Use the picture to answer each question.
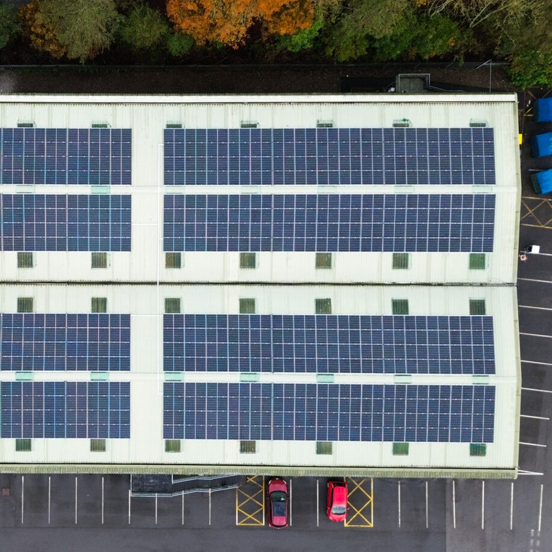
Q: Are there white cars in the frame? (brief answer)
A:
No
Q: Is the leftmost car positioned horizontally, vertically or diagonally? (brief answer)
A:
vertically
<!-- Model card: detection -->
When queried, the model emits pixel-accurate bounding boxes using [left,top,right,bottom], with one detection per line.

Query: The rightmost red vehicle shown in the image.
[324,478,349,521]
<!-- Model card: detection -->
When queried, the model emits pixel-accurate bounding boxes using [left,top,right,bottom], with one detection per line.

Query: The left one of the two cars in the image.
[265,476,291,529]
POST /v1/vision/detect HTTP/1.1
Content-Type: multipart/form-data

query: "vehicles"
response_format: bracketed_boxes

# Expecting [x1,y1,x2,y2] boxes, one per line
[265,476,291,529]
[324,478,349,521]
